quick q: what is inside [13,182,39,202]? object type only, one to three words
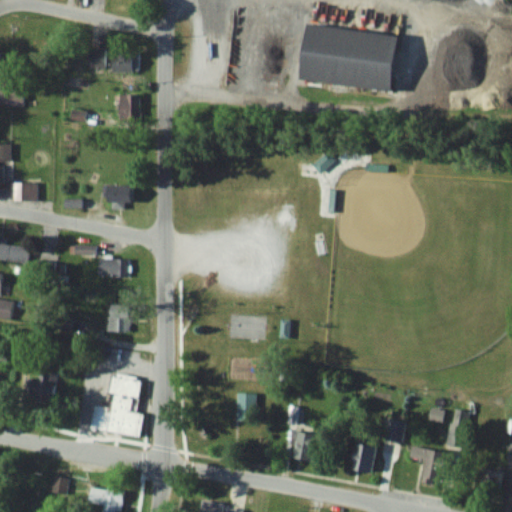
shed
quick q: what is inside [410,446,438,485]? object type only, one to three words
house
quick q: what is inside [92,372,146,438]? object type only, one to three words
building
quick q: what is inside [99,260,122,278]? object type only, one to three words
house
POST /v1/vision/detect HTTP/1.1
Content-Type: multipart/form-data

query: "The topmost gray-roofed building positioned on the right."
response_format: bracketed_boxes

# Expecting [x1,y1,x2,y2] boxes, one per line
[300,26,401,90]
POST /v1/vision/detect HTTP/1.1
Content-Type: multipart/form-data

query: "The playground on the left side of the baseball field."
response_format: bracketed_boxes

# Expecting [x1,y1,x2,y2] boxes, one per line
[230,358,258,381]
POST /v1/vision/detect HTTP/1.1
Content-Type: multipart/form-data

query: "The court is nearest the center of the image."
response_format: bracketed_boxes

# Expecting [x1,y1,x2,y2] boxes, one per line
[230,316,267,340]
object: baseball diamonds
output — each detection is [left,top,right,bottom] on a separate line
[326,167,512,372]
